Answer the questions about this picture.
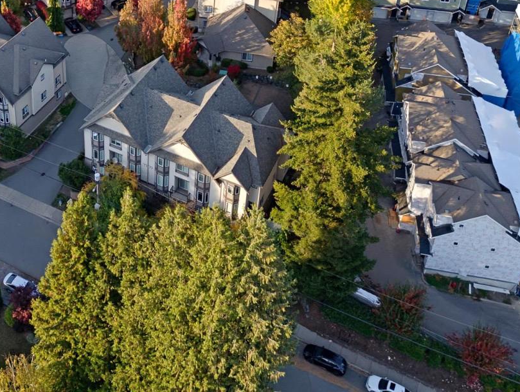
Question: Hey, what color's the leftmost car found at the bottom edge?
black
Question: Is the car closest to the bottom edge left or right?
right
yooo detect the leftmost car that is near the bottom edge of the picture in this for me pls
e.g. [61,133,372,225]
[303,342,351,380]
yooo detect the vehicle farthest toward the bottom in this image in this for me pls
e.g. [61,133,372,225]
[364,369,413,392]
